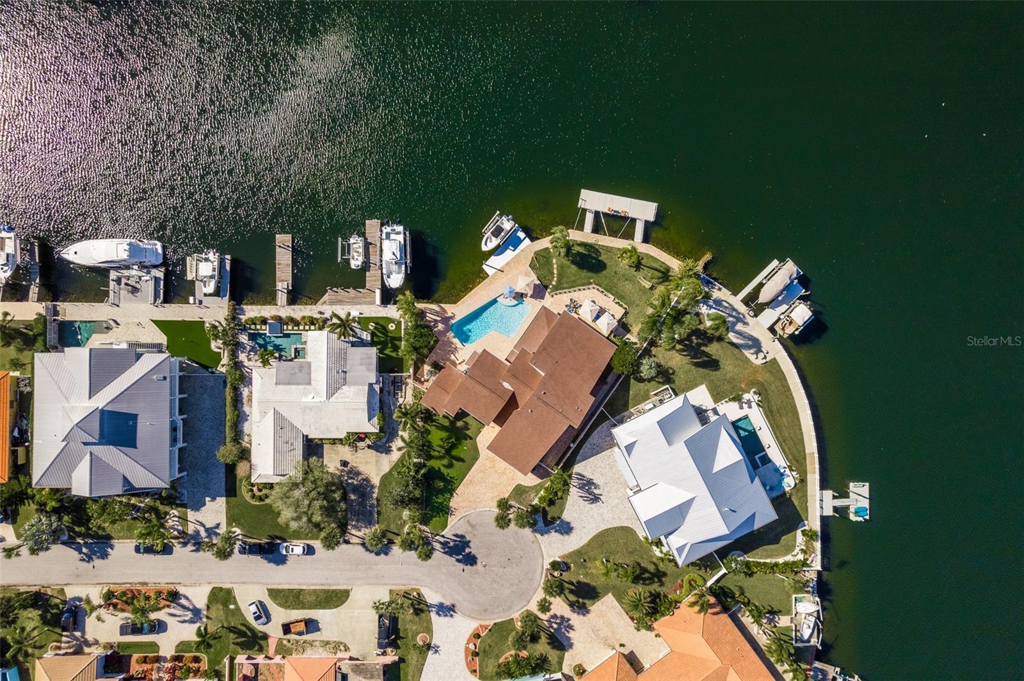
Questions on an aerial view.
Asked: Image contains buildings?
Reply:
Yes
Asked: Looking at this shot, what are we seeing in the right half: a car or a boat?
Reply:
boat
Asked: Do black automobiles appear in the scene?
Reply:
Yes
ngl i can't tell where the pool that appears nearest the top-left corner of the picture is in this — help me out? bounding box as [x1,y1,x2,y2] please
[57,319,114,349]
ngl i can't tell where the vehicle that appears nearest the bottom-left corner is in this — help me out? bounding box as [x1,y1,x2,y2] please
[60,604,78,635]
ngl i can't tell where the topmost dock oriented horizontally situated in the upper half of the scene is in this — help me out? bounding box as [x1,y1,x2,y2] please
[578,189,658,222]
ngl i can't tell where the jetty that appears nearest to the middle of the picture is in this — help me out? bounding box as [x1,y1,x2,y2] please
[483,224,532,275]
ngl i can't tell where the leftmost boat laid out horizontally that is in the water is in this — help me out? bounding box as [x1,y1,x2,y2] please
[53,239,167,267]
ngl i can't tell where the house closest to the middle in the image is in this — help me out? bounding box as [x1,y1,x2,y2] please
[421,306,618,476]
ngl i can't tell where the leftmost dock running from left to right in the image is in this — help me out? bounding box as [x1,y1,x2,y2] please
[102,267,178,303]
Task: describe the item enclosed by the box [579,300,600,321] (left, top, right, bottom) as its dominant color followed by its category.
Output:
white umbrella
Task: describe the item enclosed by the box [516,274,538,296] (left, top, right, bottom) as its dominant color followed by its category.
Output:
white umbrella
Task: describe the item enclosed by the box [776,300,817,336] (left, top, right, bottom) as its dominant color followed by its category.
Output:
white boat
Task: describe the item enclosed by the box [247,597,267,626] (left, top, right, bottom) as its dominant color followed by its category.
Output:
white car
